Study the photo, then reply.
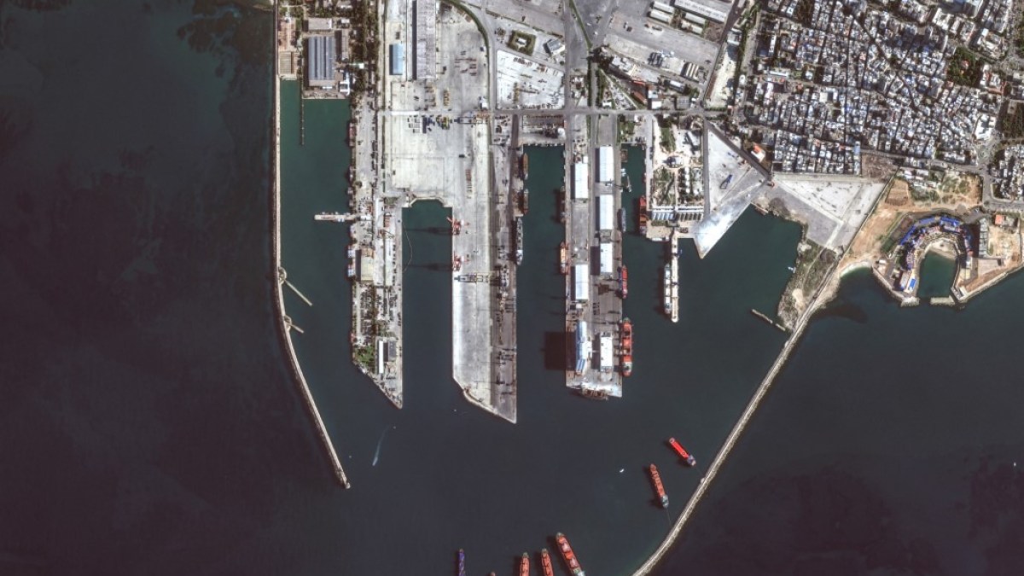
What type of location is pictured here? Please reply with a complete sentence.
What you see here is a port.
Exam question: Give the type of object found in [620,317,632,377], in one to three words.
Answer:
ship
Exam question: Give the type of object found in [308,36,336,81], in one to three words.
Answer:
building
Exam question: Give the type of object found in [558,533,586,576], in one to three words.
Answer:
ship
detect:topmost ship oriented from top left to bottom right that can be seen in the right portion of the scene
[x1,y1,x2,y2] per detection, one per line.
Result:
[672,436,695,468]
